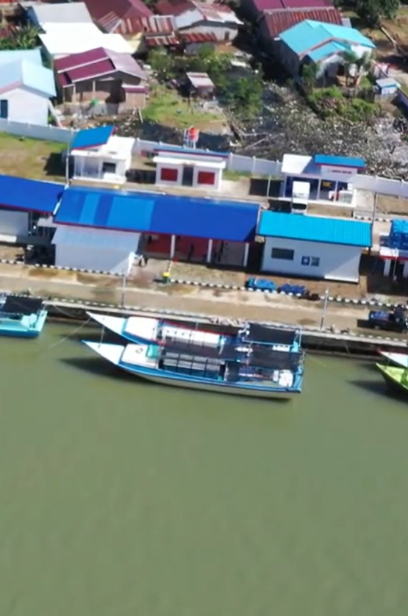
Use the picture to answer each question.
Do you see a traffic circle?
No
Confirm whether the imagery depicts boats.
Yes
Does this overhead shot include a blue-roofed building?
Yes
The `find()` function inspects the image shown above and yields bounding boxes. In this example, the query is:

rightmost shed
[369,77,399,100]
